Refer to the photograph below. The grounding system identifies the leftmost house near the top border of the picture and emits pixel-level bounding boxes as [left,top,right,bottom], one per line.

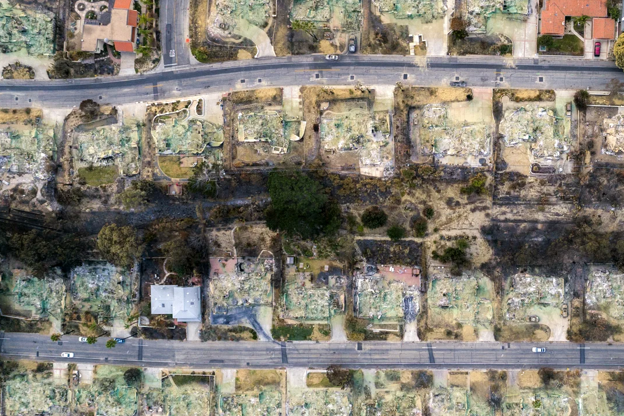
[0,8,63,59]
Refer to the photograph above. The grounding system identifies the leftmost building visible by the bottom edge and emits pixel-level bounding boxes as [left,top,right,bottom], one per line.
[0,372,72,416]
